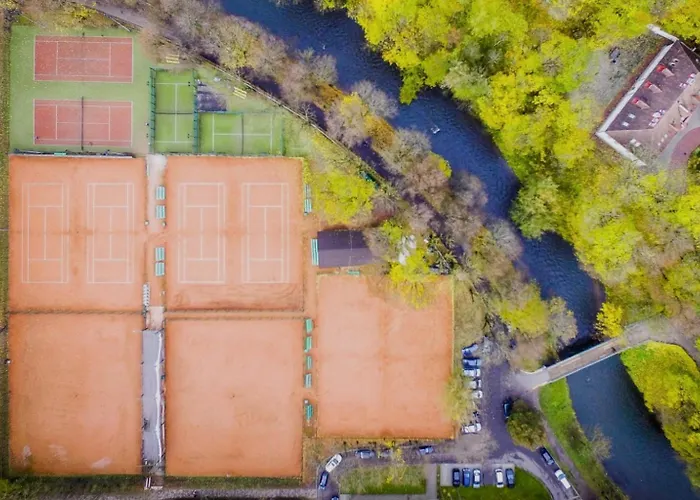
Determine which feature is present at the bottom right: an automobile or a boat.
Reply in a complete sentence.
What appears at the bottom right is an automobile.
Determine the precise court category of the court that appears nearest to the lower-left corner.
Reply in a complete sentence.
Looking closely, the court that appears nearest to the lower-left corner is a tennis court.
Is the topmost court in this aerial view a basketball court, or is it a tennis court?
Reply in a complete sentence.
It turns out the topmost court is a tennis court.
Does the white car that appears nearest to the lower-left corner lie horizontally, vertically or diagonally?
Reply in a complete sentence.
I'd say the white car that appears nearest to the lower-left corner is aligned diagonally in the picture.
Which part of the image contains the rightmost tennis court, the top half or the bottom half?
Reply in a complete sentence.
It is in the bottom half that the rightmost tennis court appears.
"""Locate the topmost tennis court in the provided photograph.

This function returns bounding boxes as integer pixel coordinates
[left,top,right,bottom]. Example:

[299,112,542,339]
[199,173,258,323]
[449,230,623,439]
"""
[10,25,146,90]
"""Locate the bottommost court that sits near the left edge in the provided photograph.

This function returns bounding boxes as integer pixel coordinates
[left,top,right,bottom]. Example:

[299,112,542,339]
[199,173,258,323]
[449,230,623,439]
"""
[9,315,142,475]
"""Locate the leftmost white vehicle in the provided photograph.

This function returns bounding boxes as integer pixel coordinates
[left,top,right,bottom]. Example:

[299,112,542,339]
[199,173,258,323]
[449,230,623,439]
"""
[323,453,343,476]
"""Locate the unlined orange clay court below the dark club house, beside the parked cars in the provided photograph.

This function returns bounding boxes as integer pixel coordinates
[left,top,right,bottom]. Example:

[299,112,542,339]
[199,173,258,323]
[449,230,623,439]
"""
[318,276,454,438]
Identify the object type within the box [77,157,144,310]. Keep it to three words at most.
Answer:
tennis court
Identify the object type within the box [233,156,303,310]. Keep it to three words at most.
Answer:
tennis court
